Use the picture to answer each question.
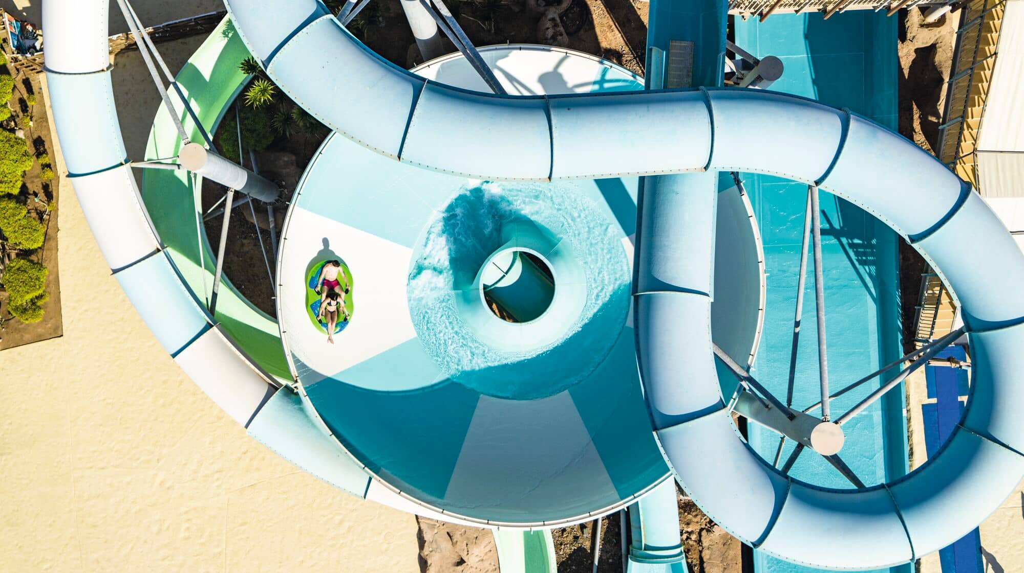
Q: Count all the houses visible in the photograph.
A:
0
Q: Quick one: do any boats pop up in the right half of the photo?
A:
No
